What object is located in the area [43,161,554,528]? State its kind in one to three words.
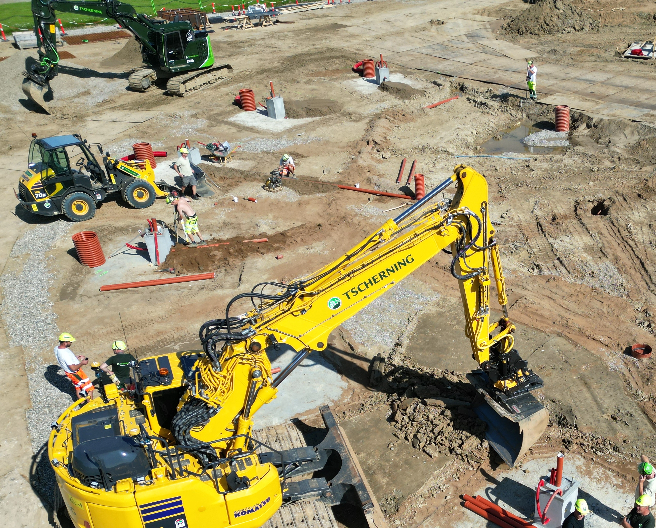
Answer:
work vehicle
